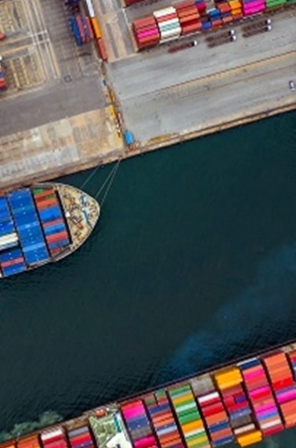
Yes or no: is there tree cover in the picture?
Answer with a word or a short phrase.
No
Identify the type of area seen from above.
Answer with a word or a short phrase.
port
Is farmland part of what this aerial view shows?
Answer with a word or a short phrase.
No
